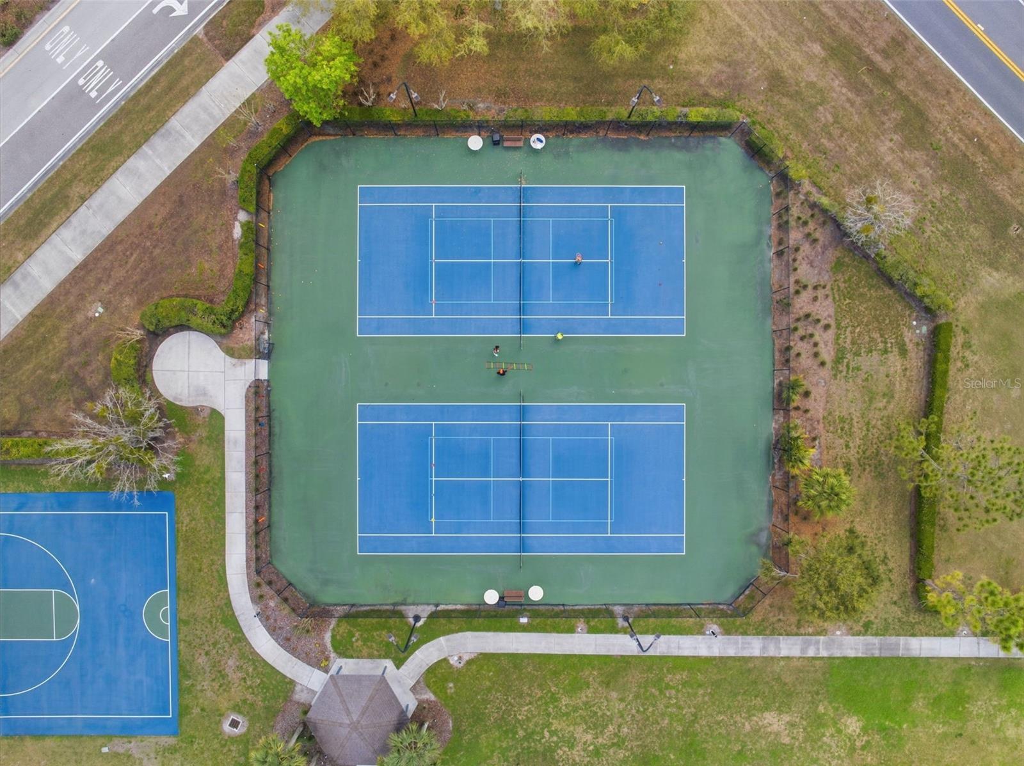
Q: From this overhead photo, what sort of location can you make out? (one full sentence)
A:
The picture captures a sports ground.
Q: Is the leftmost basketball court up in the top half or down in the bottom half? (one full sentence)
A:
Seen from above, the leftmost basketball court lies in the bottom half of the view.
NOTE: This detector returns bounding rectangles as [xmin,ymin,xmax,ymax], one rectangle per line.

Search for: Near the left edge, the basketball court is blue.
[0,492,178,738]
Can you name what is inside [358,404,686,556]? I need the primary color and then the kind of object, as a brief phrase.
blue tennis court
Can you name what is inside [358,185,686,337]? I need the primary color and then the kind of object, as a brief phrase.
blue tennis court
